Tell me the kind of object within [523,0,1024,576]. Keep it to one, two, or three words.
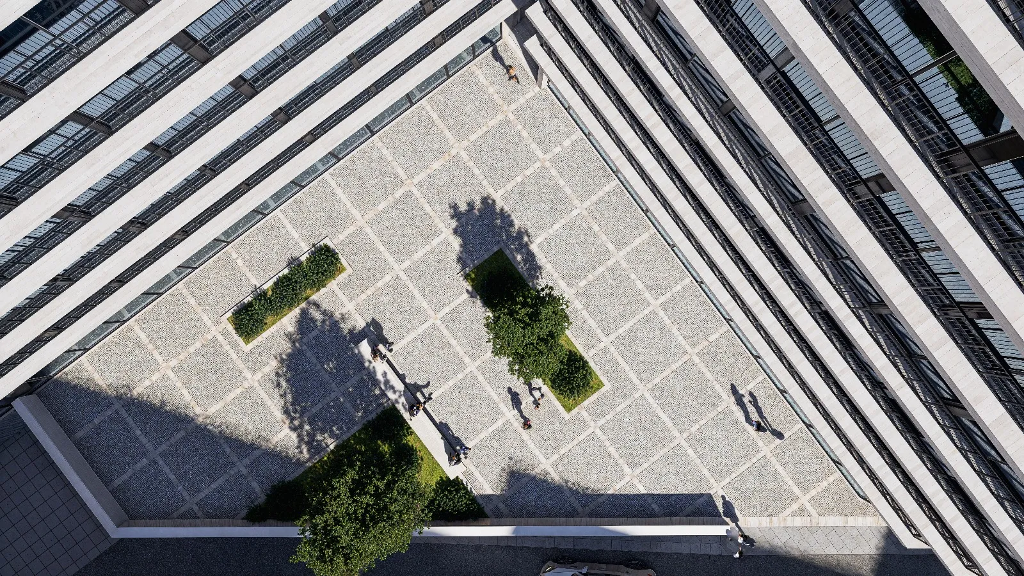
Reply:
building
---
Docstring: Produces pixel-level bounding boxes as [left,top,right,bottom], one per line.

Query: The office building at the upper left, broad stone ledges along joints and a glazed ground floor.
[0,0,518,417]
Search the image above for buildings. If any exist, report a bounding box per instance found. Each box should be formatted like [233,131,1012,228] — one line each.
[523,0,1024,576]
[0,0,518,417]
